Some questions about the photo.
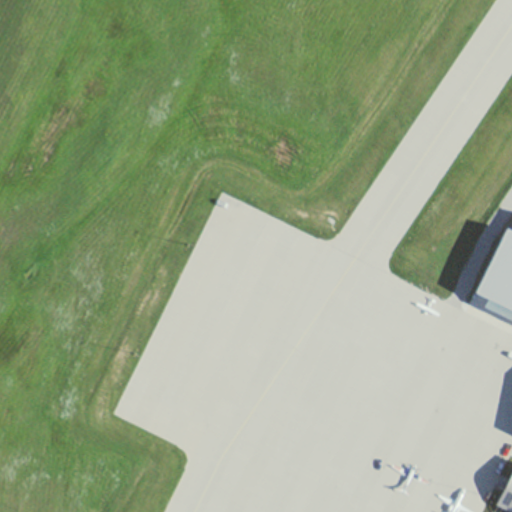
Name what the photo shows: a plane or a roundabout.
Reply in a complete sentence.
It is a plane that can be seen here.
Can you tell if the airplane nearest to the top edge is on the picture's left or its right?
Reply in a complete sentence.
The airplane nearest to the top edge appears in the right half of the scene.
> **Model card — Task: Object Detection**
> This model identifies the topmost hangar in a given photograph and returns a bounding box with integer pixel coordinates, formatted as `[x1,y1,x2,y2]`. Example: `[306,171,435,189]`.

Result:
[470,226,512,321]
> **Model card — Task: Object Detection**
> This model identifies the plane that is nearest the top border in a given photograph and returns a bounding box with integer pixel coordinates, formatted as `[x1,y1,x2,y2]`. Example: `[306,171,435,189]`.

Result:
[416,298,441,317]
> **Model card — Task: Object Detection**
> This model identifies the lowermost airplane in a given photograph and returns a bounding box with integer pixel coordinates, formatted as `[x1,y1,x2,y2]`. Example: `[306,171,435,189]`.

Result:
[434,488,470,512]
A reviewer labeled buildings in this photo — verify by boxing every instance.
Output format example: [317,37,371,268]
[470,226,512,321]
[496,472,512,512]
